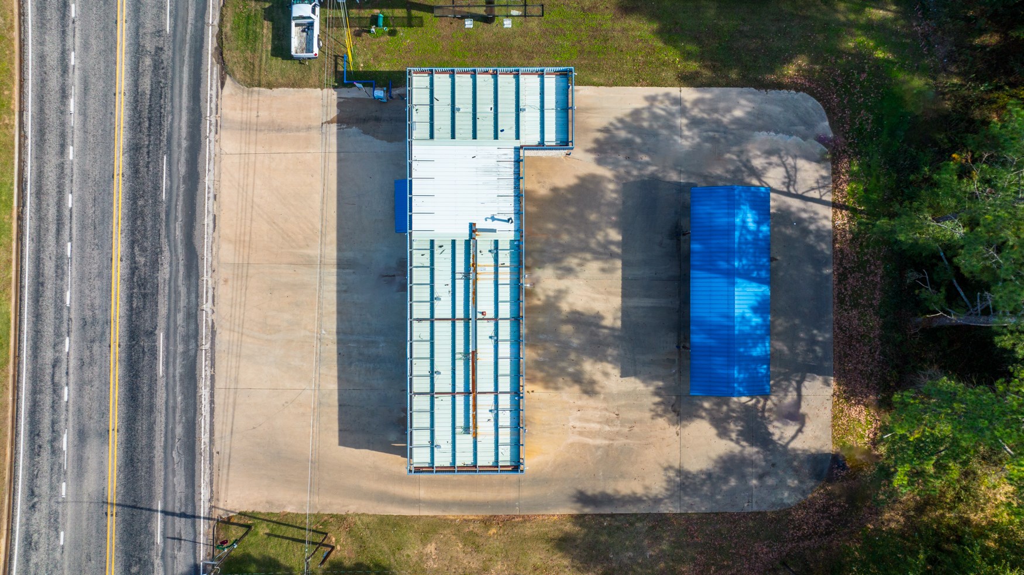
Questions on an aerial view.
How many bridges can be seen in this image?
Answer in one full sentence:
There are no bridges in the image.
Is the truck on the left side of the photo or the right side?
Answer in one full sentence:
It is on the left.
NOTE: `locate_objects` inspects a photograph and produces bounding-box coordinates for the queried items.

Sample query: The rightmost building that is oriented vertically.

[407,68,573,474]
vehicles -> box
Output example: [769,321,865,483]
[287,0,324,64]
